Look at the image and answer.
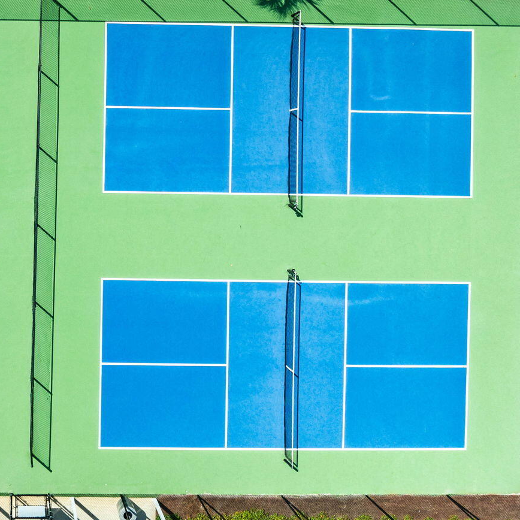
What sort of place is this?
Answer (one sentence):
This looks like a sports ground.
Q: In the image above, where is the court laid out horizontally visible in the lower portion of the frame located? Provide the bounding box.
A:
[101,279,470,451]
